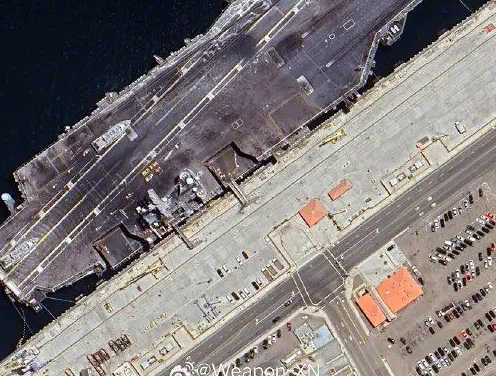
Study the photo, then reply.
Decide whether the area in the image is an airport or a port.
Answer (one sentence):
What you see here is a port.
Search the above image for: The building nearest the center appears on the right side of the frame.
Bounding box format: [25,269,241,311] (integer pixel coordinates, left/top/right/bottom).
[299,198,328,226]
